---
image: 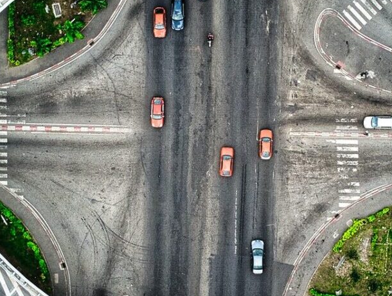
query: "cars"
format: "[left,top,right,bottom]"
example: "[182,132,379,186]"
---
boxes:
[220,147,234,179]
[151,7,166,38]
[250,240,267,275]
[259,129,273,160]
[169,0,185,31]
[150,97,164,128]
[365,115,392,129]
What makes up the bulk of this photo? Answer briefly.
paved ground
